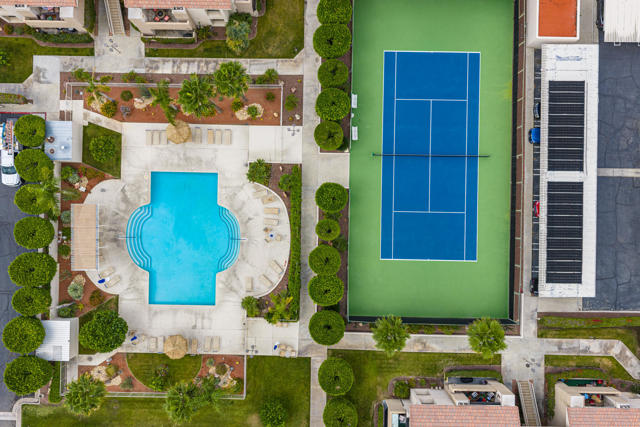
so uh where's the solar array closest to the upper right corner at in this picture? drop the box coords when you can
[548,81,585,174]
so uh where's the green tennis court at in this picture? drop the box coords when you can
[348,0,514,318]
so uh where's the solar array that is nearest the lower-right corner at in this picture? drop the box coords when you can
[546,182,583,283]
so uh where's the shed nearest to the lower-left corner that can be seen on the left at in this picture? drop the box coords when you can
[41,314,79,362]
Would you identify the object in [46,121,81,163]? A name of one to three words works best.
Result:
shed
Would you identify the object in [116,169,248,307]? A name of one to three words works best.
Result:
swimming pool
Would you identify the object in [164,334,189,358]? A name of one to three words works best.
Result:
umbrella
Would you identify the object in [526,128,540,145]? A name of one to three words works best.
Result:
vehicle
